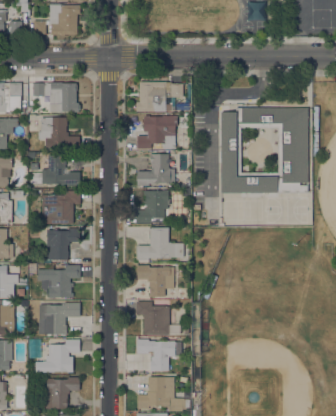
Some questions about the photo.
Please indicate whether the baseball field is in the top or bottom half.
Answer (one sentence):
The bottom half of the photo is where the baseball field is.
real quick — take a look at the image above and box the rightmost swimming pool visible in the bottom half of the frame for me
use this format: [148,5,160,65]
[29,338,43,359]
